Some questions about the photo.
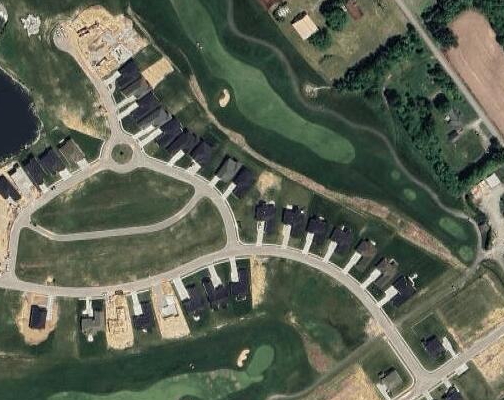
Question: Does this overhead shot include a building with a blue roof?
No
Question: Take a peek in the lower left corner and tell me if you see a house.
Yes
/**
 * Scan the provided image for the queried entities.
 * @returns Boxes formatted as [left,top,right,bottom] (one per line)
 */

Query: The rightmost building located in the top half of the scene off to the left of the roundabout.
[57,137,86,165]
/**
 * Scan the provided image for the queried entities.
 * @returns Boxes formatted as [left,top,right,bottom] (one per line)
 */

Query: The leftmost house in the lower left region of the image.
[28,304,49,330]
